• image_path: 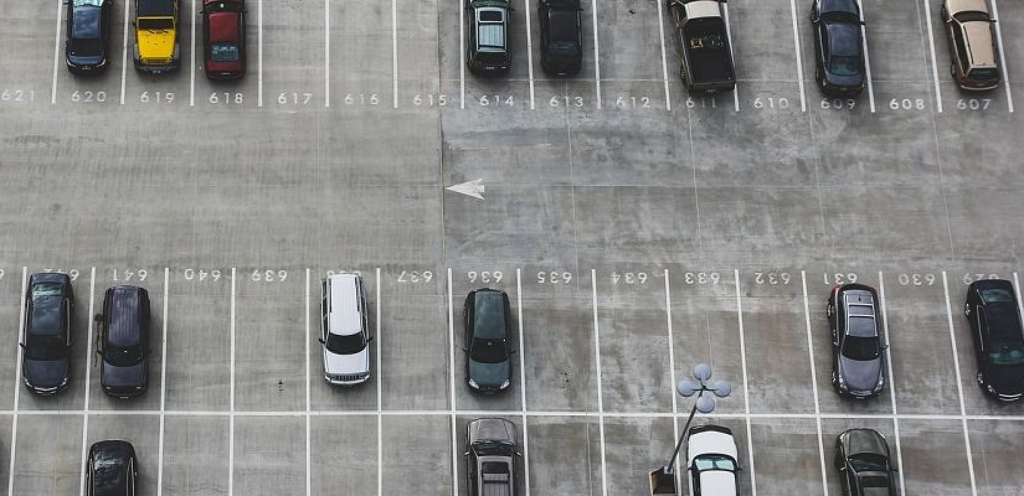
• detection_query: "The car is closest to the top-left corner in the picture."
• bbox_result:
[64,0,113,71]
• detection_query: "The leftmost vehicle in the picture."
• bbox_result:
[18,274,73,394]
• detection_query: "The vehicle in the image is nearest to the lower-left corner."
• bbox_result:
[87,442,138,496]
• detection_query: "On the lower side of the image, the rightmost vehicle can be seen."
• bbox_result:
[967,281,1024,400]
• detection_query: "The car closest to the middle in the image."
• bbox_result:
[464,288,517,393]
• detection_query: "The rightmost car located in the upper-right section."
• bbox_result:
[945,0,1000,89]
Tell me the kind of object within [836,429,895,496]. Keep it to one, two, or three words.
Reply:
car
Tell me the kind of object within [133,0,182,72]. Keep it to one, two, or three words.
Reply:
car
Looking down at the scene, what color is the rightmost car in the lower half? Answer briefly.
black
